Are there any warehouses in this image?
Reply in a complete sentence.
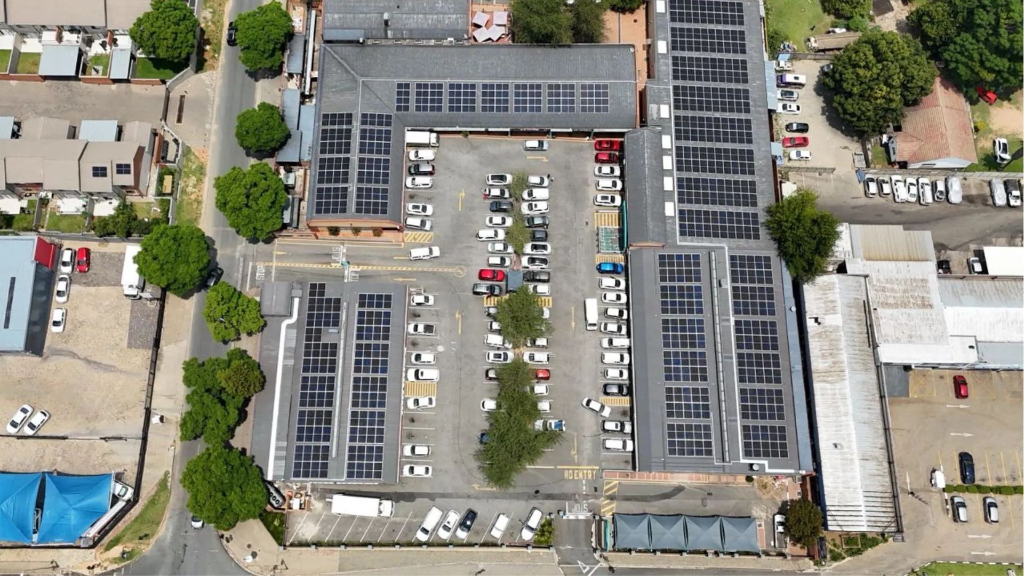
Yes, a warehouse appears in the view.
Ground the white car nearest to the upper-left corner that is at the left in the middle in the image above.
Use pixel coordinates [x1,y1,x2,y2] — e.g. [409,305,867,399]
[56,247,75,273]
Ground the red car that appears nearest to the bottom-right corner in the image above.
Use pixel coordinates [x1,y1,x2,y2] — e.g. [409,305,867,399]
[954,375,971,399]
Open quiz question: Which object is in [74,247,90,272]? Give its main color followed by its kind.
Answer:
red car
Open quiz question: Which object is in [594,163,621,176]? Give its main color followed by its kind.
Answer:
white vehicle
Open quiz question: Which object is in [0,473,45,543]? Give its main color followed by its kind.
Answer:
blue tent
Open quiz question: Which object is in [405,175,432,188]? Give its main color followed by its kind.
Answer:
white vehicle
